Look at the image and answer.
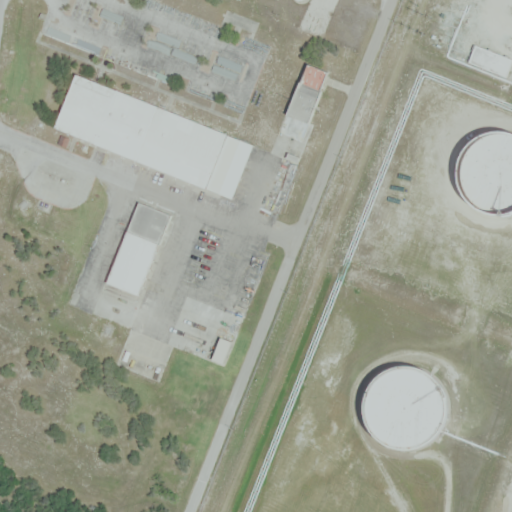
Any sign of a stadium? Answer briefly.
No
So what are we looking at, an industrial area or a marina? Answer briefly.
industrial area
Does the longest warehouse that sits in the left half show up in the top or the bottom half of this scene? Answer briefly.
top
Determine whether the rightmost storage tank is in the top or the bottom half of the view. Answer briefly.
top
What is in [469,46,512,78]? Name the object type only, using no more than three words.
building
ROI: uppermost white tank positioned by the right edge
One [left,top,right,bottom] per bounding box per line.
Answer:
[454,130,512,218]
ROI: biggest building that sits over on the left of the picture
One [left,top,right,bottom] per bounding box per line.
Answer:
[54,75,254,200]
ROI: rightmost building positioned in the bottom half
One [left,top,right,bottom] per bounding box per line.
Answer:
[212,338,233,366]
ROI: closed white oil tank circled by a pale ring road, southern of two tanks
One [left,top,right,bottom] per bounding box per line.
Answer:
[362,366,450,452]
